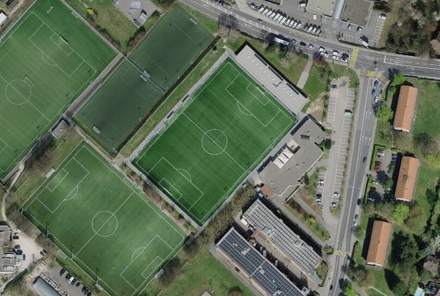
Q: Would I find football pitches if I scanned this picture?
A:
Yes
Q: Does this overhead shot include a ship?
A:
No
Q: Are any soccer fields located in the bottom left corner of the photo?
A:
Yes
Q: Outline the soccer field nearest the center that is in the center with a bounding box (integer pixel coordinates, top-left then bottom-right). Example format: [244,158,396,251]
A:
[132,56,298,225]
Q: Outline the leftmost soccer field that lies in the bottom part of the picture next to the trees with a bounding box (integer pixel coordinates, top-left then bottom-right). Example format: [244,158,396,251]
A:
[20,139,190,296]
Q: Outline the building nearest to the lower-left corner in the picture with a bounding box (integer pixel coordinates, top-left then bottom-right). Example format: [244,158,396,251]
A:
[0,251,17,273]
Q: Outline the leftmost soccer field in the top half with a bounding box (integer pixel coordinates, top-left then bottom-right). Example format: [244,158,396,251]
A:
[0,0,120,180]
